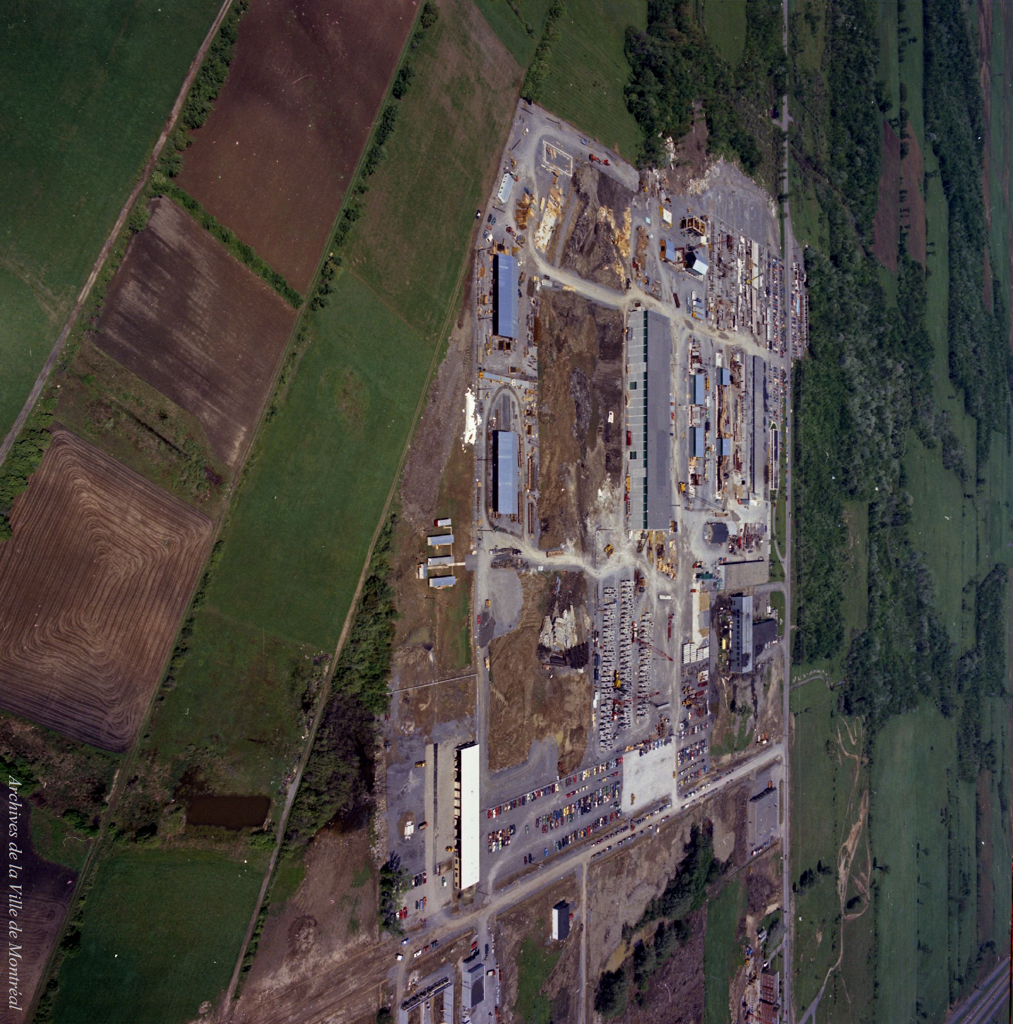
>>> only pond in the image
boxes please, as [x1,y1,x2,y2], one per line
[186,796,271,831]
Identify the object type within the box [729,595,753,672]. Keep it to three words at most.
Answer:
building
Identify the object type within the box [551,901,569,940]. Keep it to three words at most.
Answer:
barn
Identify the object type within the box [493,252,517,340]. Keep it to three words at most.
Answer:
shed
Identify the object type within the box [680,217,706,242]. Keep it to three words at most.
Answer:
building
